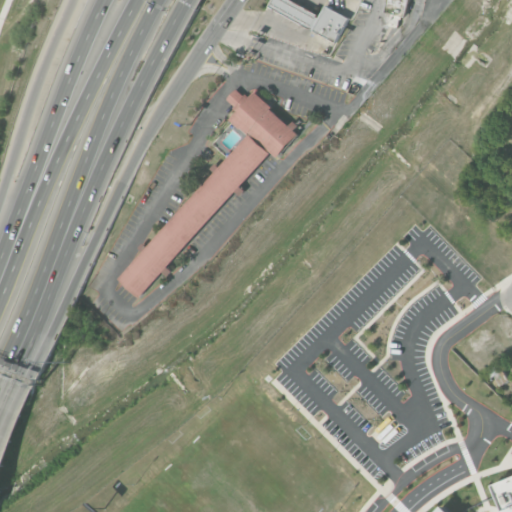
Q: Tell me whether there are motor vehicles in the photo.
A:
Yes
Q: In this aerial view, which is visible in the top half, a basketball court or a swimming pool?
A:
swimming pool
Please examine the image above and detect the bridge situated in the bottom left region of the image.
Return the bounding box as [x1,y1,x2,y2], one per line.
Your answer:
[0,352,42,469]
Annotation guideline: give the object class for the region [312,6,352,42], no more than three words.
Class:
building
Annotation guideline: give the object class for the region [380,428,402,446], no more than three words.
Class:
vehicle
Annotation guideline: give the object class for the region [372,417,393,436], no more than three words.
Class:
vehicle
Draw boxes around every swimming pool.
[213,123,248,156]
